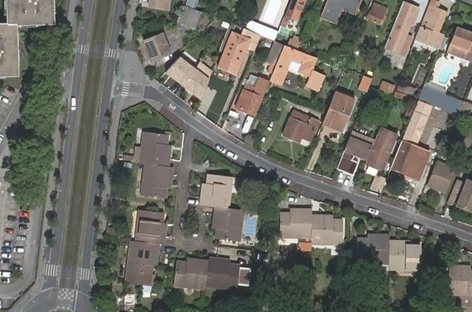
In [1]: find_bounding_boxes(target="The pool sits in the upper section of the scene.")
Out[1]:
[432,54,470,88]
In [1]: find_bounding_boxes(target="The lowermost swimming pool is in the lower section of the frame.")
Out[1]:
[240,214,258,244]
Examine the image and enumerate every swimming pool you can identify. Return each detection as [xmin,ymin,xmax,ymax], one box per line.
[240,214,258,244]
[432,54,470,88]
